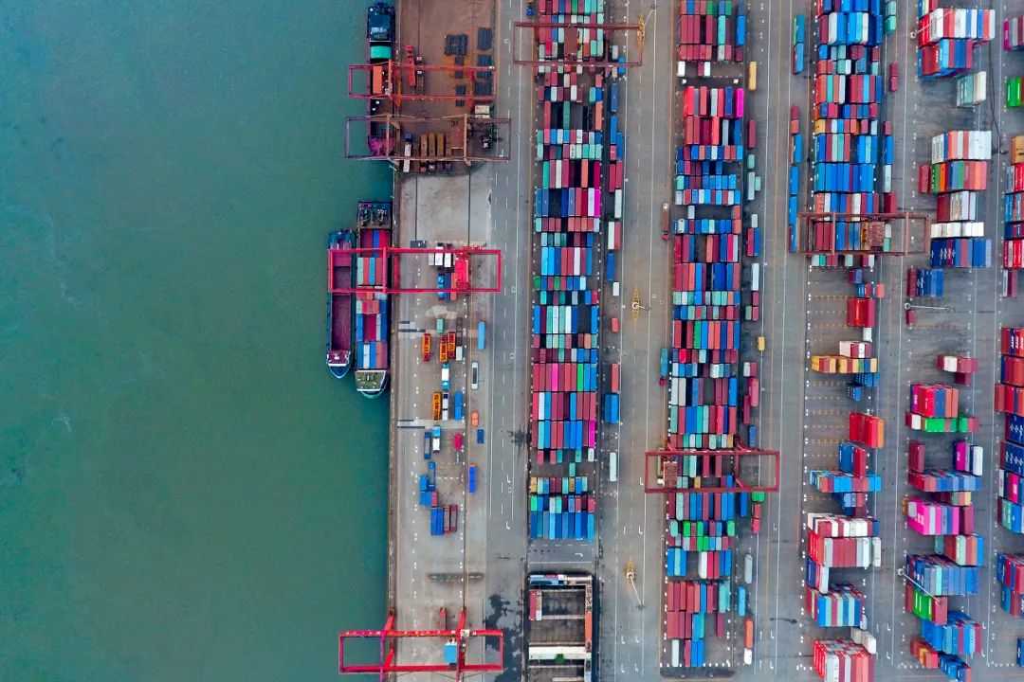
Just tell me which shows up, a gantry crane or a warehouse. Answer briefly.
gantry crane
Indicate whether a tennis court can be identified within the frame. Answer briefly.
No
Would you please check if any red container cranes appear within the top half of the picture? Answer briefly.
Yes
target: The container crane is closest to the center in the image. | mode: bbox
[327,245,502,297]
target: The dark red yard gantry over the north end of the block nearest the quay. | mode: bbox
[514,19,642,82]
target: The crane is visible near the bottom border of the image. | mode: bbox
[338,603,529,682]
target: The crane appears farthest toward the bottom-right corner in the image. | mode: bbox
[644,441,780,495]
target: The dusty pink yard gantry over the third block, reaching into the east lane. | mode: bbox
[797,209,929,257]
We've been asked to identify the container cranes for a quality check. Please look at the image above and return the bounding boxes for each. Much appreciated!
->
[644,441,780,495]
[338,603,529,682]
[327,245,502,297]
[347,57,500,117]
[797,209,929,257]
[514,19,642,82]
[344,111,511,173]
